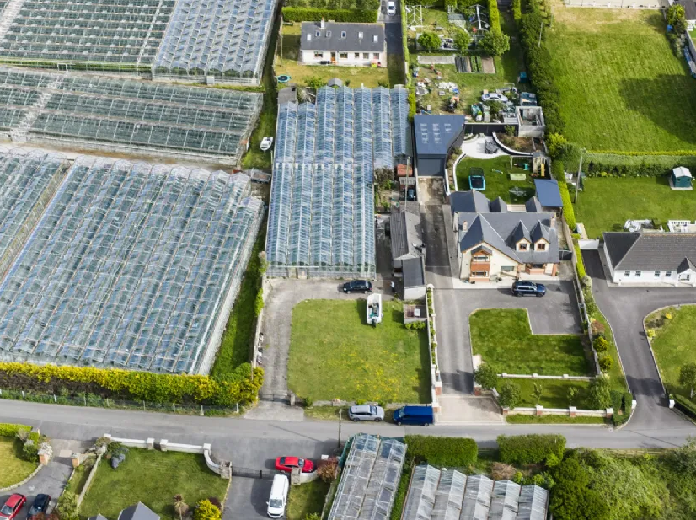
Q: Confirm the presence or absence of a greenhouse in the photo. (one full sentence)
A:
Yes, the frame does contain a greenhouse.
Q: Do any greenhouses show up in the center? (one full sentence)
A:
Yes, there is a greenhouse in the center.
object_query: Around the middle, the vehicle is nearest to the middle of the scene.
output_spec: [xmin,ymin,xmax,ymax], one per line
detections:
[340,277,370,293]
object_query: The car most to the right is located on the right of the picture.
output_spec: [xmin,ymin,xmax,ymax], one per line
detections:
[511,277,547,295]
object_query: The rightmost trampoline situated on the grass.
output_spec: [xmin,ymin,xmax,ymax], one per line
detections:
[469,167,488,187]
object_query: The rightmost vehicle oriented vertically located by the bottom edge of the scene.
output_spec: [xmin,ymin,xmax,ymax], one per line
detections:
[267,468,286,515]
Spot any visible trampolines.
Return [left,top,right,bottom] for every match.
[469,167,488,187]
[275,73,292,81]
